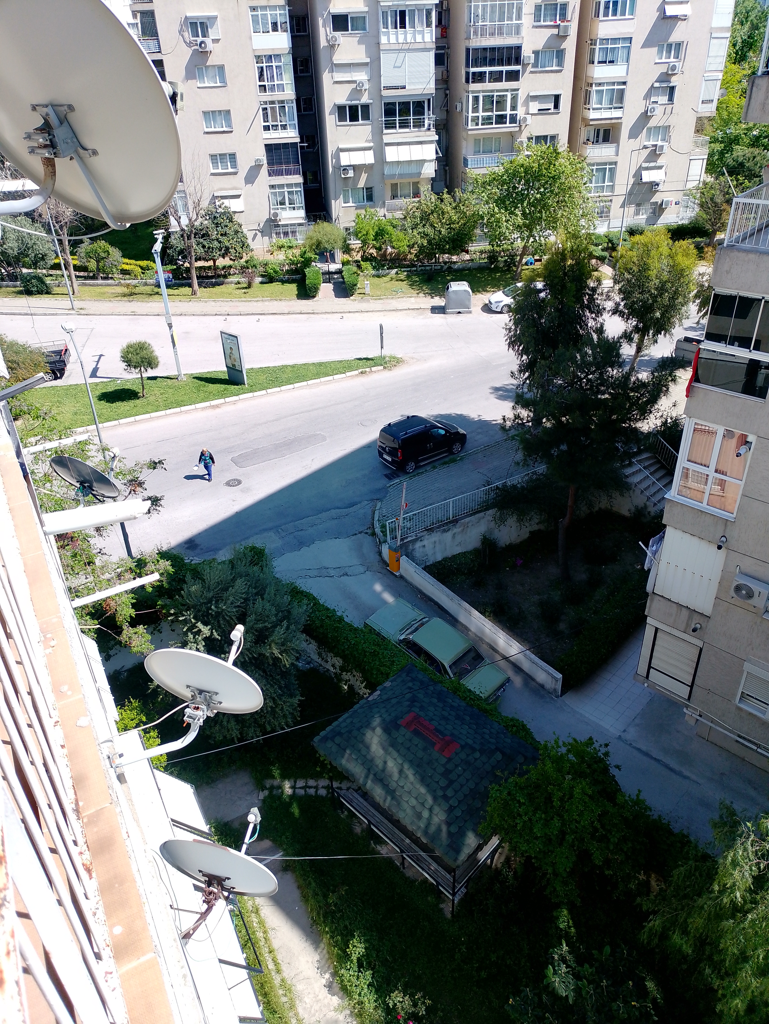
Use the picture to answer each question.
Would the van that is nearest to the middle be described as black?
Yes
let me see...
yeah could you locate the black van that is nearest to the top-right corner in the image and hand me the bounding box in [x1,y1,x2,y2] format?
[376,414,468,474]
